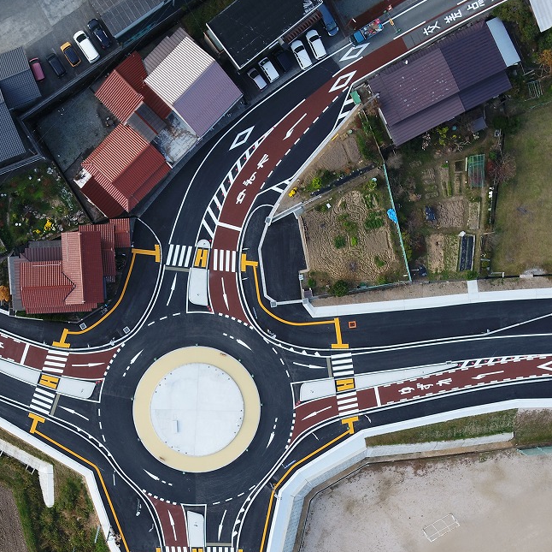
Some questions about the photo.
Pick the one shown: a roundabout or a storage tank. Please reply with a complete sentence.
Visible in the photo is a roundabout.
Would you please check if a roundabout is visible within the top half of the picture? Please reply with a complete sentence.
No, no roundabout is visible within the top half of the picture.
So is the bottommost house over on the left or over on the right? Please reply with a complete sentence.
You can find the bottommost house on the left side of the picture.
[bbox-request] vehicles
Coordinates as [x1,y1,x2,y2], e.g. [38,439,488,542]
[258,58,280,85]
[304,29,327,63]
[246,67,269,93]
[73,28,101,67]
[317,1,340,39]
[28,57,45,85]
[61,42,80,70]
[289,40,313,74]
[87,16,112,53]
[349,18,385,46]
